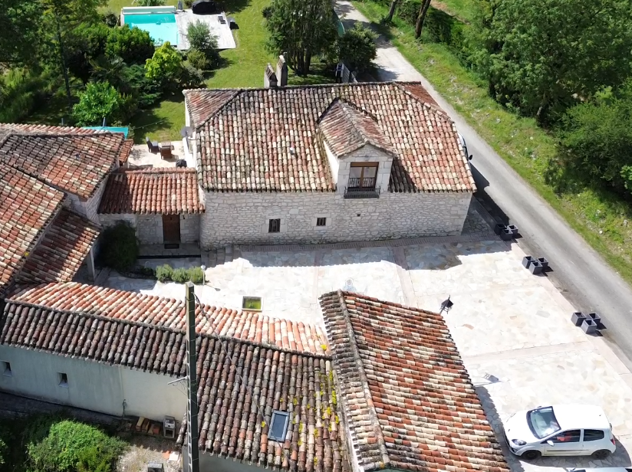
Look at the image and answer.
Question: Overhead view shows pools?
Yes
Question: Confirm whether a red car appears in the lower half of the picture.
No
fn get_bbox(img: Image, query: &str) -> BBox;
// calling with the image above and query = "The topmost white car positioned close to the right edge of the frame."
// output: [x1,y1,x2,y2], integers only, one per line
[502,399,622,460]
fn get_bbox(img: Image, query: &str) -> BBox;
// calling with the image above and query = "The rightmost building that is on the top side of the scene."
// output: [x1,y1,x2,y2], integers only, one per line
[181,51,474,243]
